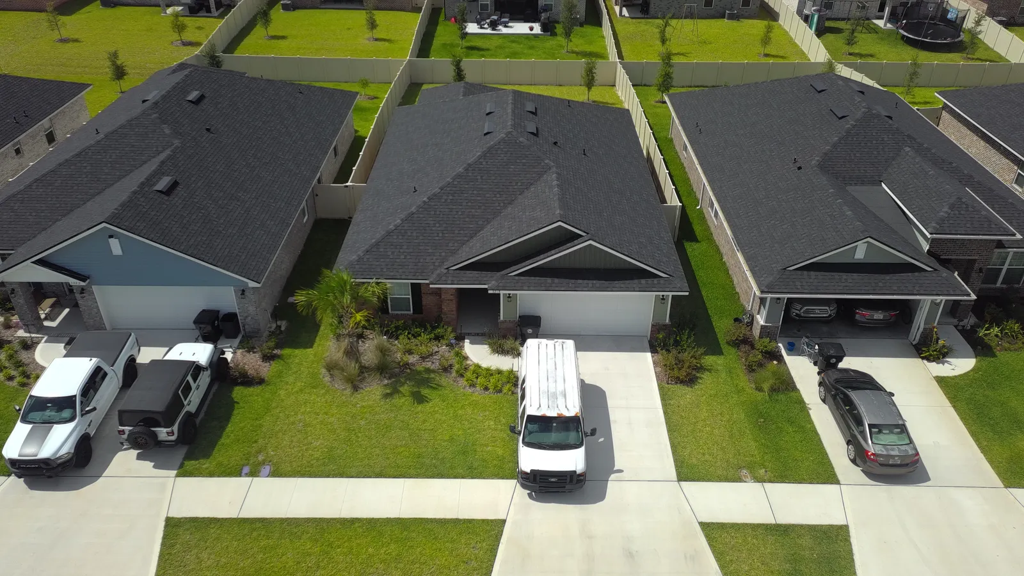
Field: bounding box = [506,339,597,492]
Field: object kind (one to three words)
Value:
van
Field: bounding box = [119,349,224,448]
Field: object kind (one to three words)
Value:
car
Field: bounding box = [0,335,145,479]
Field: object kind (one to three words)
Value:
truck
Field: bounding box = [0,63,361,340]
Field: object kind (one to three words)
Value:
house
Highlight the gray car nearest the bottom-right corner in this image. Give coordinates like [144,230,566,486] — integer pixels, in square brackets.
[823,374,924,477]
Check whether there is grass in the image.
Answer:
Yes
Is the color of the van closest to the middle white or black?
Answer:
white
